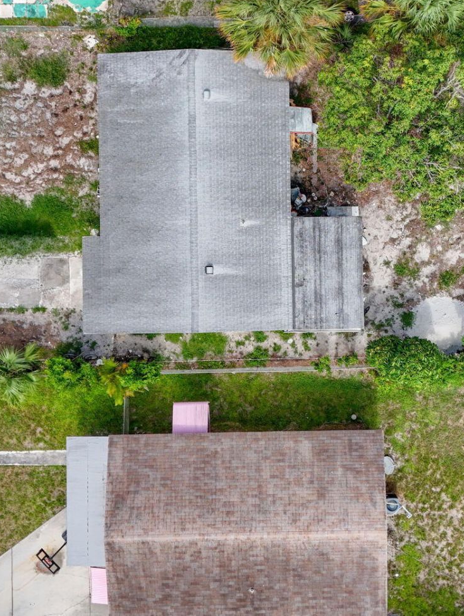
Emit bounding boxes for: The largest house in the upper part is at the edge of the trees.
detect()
[83,49,365,335]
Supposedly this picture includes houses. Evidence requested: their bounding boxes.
[65,402,389,616]
[83,49,365,335]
